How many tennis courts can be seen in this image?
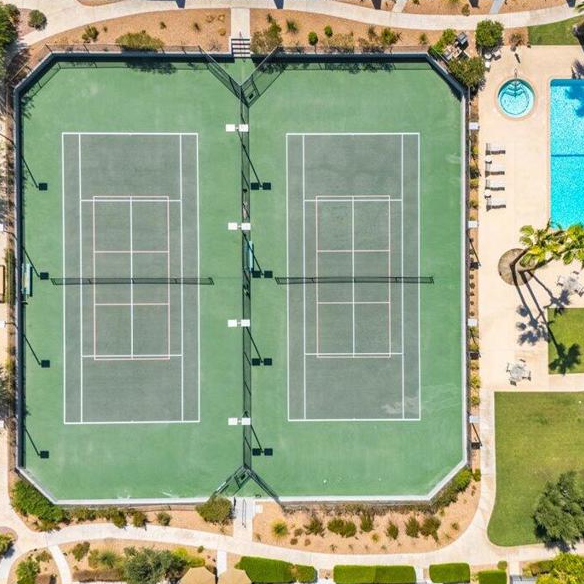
two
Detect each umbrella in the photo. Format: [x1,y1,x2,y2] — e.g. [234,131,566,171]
[219,567,251,584]
[181,566,215,584]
